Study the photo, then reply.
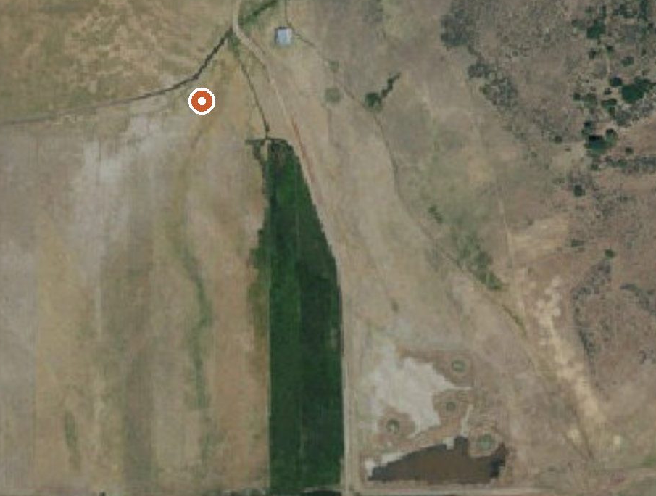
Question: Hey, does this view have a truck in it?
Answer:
No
